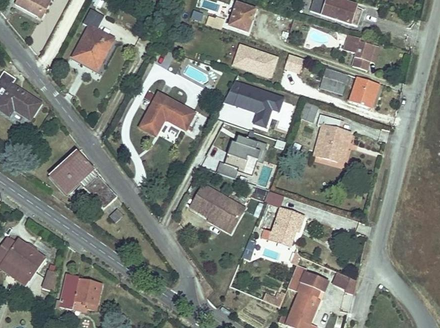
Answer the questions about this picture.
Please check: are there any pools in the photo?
Yes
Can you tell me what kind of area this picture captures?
residential area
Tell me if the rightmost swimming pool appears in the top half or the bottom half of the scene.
top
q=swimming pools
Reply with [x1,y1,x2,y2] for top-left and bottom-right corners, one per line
[304,28,346,48]
[252,162,276,189]
[262,248,280,260]
[195,0,232,20]
[179,58,222,88]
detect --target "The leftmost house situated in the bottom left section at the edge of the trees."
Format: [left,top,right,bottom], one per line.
[0,237,46,283]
